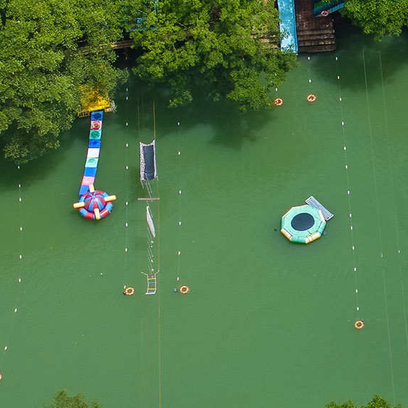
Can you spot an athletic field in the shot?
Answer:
No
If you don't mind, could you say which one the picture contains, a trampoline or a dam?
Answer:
trampoline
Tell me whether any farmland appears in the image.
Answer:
No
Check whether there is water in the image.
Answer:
Yes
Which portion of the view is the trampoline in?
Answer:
right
